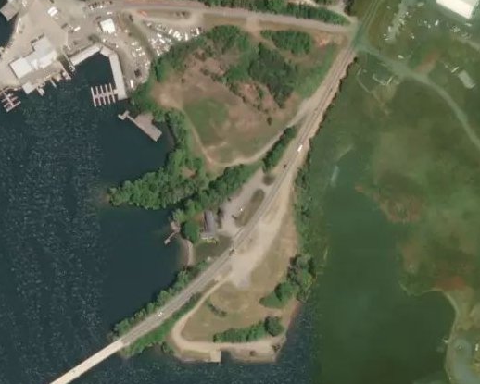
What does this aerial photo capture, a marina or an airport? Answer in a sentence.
This looks like a marina.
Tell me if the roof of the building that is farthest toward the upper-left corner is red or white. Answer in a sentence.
From above, the roof of the building that is farthest toward the upper-left corner appears white.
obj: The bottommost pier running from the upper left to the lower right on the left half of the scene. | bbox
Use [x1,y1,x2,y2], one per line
[118,111,162,141]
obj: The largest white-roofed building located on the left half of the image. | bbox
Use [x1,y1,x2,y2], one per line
[9,35,56,77]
